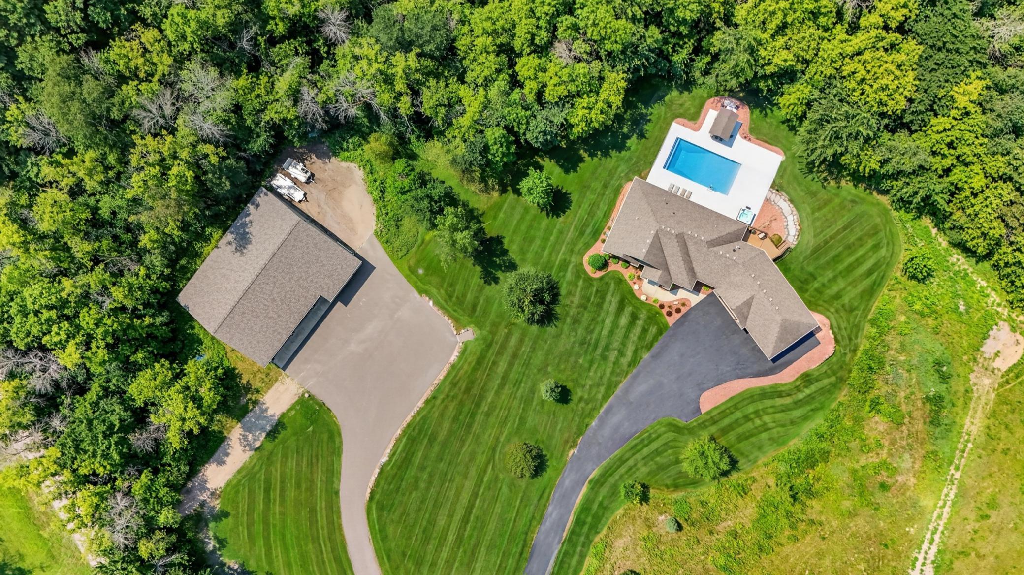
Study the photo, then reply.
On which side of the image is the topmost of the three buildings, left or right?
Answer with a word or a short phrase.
right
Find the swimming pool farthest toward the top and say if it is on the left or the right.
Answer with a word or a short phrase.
right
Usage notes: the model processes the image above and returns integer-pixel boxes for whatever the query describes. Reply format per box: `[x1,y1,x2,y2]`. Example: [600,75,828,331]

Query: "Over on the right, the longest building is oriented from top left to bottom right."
[602,176,819,360]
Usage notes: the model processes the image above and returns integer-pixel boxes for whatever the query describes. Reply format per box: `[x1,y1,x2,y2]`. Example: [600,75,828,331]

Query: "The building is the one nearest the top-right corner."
[707,107,739,142]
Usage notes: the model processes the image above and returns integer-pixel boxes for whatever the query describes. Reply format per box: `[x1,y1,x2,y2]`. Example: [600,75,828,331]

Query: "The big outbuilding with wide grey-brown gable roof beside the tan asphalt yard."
[178,188,362,367]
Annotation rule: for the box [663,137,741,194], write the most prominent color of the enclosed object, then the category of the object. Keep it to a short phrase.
blue swimming pool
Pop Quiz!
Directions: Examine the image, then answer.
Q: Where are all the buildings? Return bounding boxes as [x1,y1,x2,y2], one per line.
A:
[707,107,739,142]
[178,188,362,367]
[602,176,819,360]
